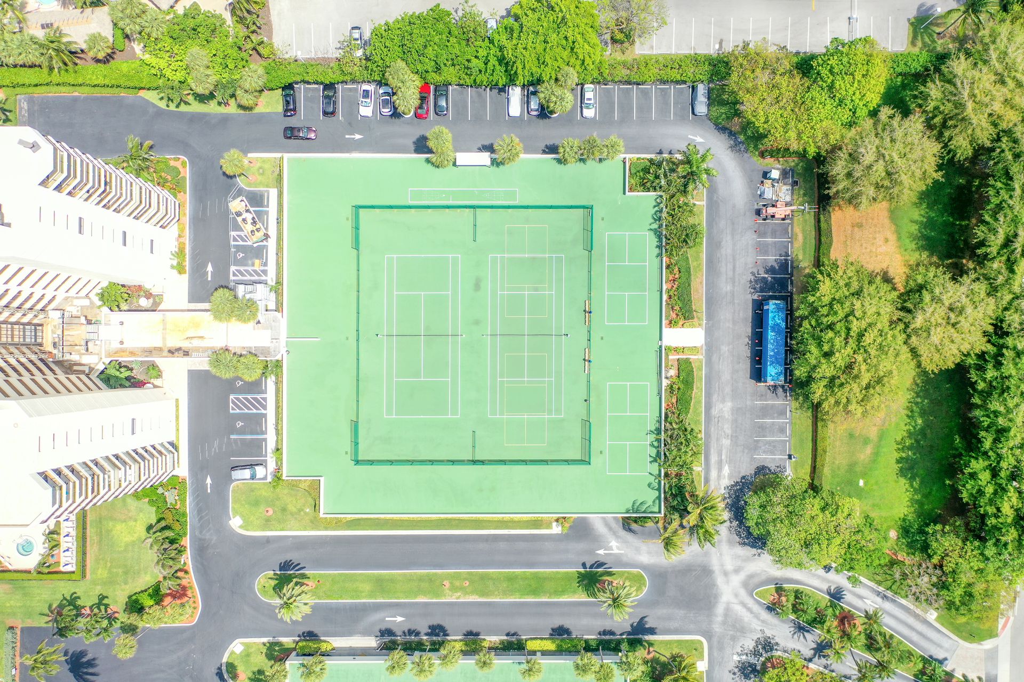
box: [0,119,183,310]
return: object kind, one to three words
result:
building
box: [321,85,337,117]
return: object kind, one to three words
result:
car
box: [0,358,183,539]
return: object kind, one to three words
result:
building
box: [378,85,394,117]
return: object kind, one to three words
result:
car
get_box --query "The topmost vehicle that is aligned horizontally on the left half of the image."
[283,124,317,140]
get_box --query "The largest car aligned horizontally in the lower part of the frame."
[231,464,266,480]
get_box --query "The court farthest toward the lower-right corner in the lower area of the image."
[607,383,649,474]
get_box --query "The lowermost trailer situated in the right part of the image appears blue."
[761,300,787,383]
